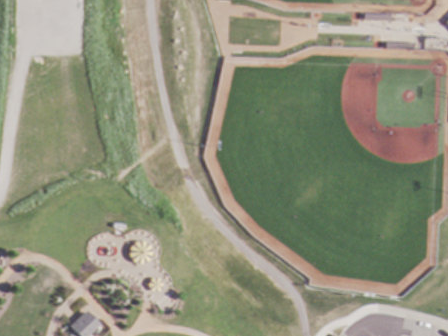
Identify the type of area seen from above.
sports ground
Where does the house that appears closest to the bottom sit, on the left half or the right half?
left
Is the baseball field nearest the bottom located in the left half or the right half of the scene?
right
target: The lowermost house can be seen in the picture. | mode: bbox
[70,312,96,336]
